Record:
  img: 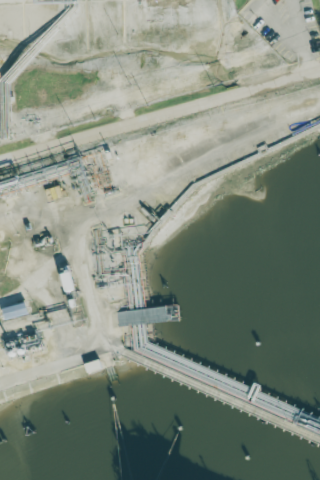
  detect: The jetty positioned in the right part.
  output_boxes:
[108,341,320,442]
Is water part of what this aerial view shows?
Yes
